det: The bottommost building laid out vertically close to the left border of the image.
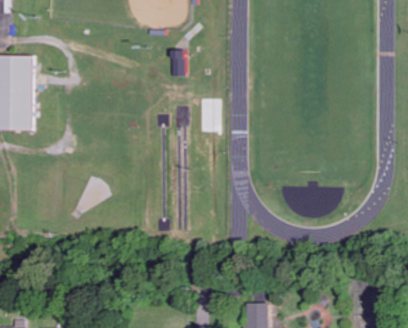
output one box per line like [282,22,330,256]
[0,54,36,130]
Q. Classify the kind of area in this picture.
sports ground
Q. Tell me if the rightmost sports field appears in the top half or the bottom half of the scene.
top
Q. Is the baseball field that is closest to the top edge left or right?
left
